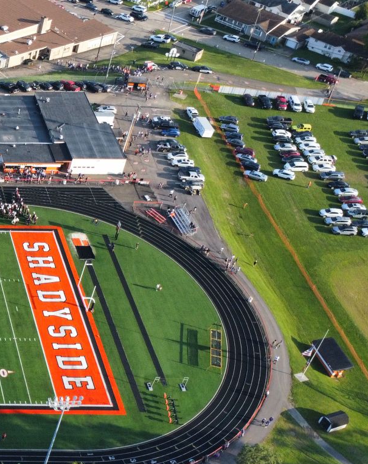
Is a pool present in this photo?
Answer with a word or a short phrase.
No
